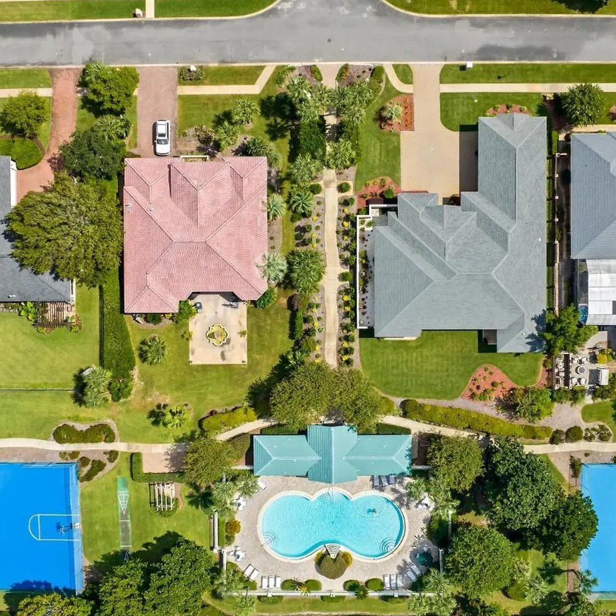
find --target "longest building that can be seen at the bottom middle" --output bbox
[253,425,412,483]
